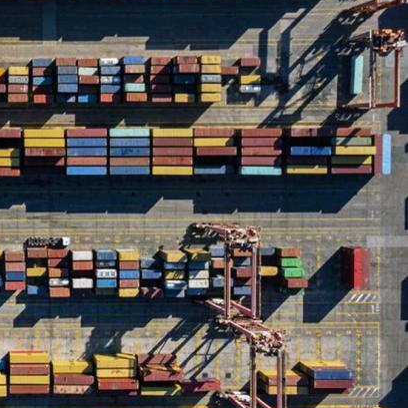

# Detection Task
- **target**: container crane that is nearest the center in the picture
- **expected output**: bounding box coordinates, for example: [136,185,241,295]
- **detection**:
[197,222,265,321]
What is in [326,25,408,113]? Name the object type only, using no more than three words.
container crane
